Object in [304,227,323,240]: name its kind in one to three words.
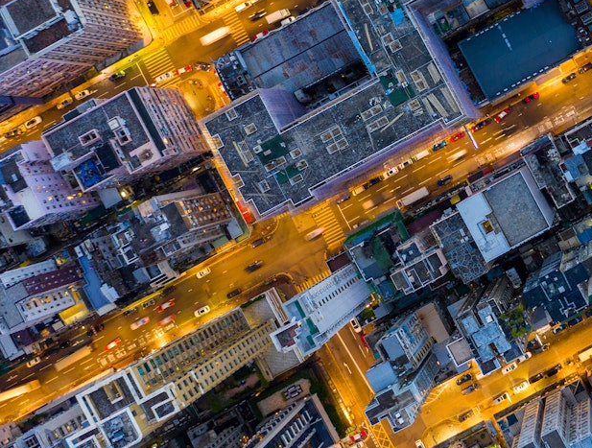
vehicle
